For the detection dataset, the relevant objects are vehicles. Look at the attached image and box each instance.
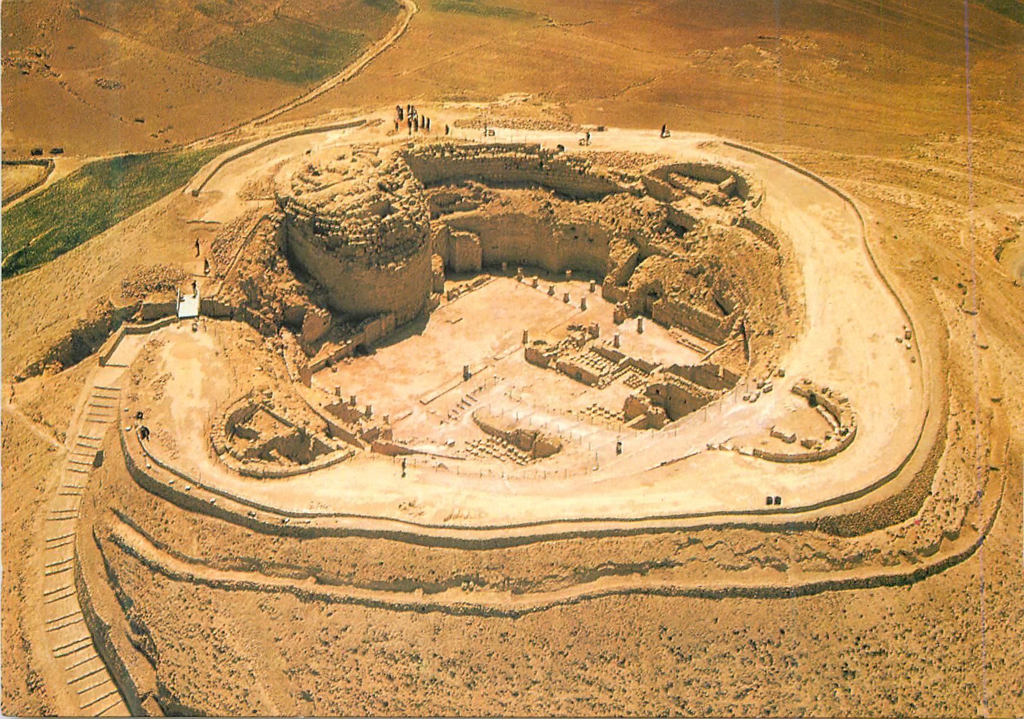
[29,147,44,156]
[48,146,63,156]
